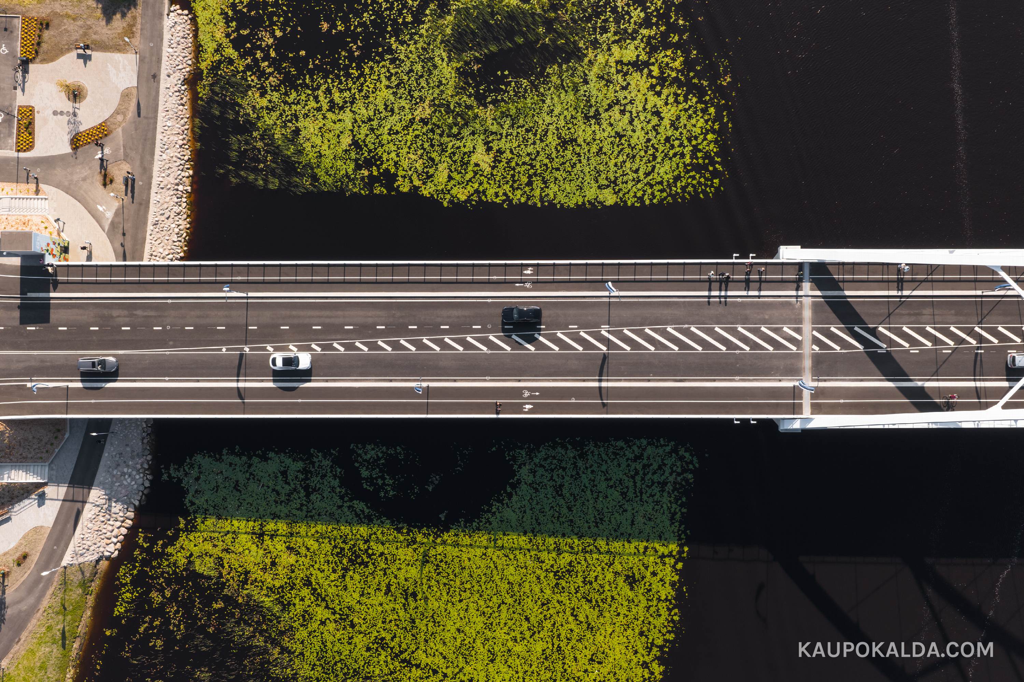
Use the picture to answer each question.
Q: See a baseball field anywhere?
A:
No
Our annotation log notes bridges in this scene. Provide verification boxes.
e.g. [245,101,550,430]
[0,246,1024,433]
